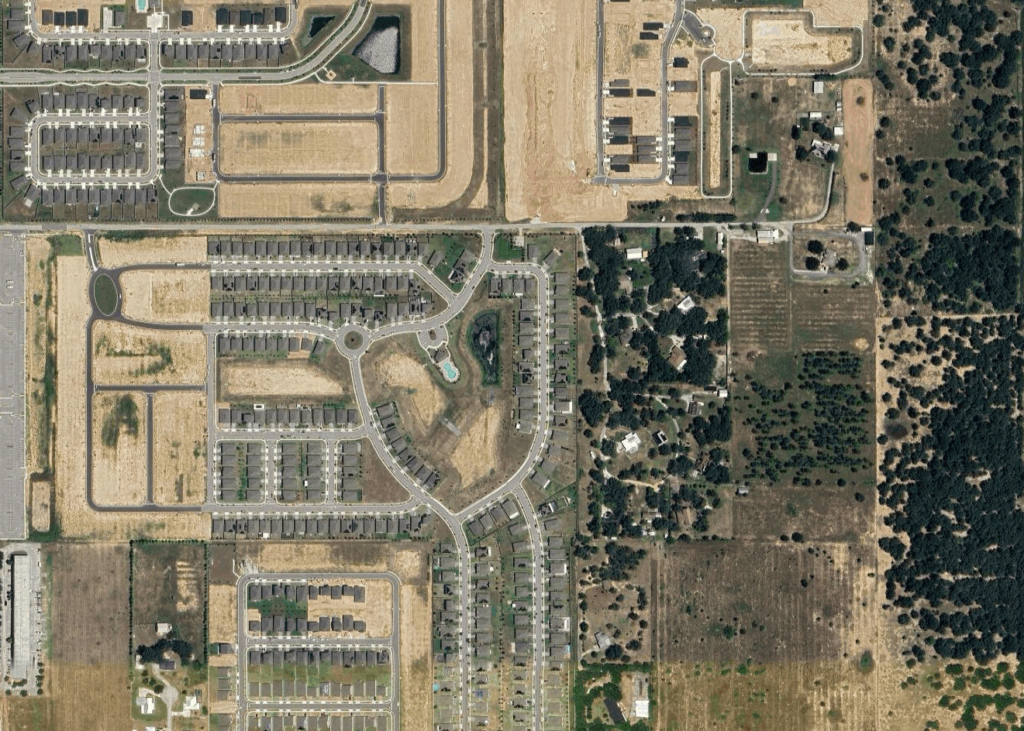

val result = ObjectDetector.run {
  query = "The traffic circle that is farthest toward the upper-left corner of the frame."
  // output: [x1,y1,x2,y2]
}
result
[89,269,123,320]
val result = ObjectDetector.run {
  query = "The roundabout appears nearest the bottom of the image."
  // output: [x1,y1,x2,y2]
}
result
[338,324,369,355]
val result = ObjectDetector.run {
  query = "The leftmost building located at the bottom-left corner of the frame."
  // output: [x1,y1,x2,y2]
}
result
[14,555,29,680]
